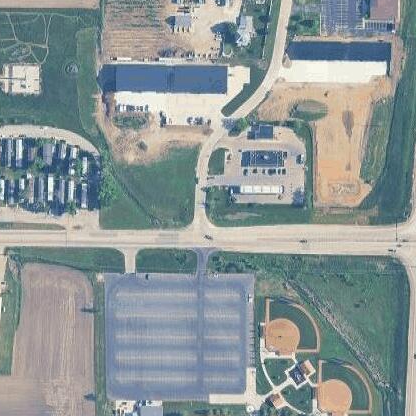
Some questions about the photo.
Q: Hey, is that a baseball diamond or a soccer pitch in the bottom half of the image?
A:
baseball diamond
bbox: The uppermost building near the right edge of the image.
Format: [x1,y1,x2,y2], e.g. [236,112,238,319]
[371,0,399,19]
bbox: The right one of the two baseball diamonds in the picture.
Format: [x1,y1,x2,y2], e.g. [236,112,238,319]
[316,358,373,415]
